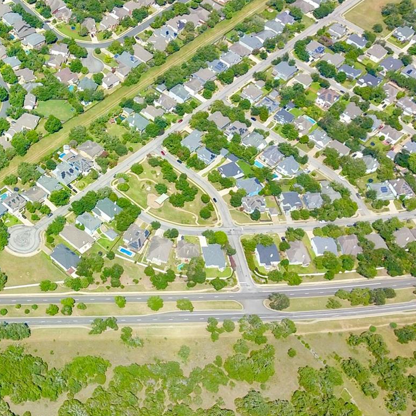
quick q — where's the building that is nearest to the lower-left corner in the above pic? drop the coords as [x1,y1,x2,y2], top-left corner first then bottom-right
[48,242,84,274]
